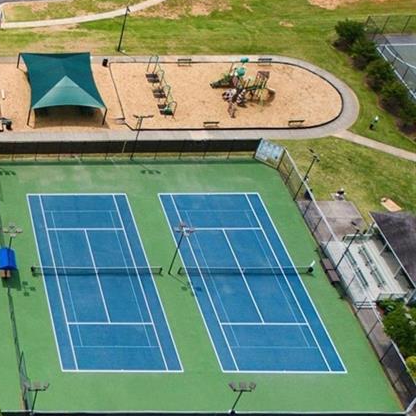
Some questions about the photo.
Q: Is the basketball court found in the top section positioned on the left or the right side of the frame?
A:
right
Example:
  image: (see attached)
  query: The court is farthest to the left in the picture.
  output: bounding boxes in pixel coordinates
[27,193,183,372]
